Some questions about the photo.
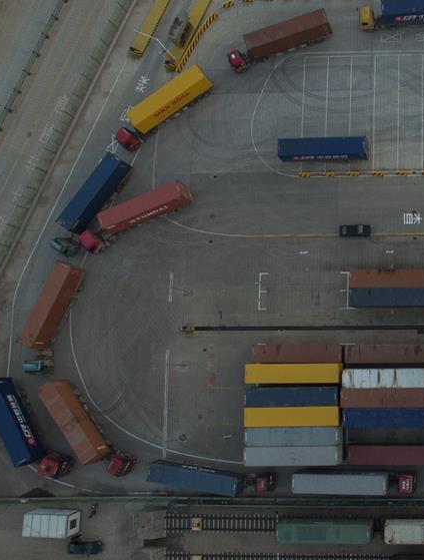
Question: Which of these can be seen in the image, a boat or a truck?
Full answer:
It is a truck that can be seen here.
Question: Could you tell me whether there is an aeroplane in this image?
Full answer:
No, no aeroplane is visible in the view.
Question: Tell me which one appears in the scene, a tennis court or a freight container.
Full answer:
Visible in the photo is a freight container.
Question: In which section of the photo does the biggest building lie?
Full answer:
The biggest building appears toward the bottom left of the photo.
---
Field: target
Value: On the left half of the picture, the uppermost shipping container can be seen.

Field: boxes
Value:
[126,63,211,134]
